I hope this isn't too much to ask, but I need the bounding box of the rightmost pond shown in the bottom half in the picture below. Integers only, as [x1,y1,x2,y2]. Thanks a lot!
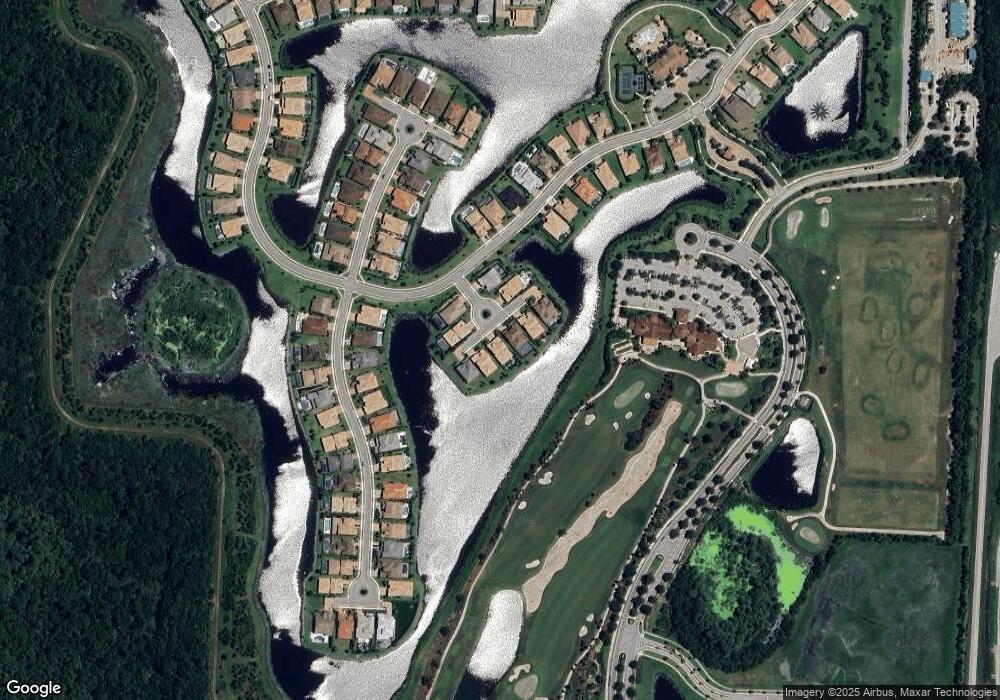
[752,418,819,510]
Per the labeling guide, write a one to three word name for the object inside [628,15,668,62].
swimming pool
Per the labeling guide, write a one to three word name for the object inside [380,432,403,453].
house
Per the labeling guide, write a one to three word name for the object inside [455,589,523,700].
pond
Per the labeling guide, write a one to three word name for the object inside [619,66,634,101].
tennis court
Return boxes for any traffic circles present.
[675,222,707,254]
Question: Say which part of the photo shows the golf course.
bottom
